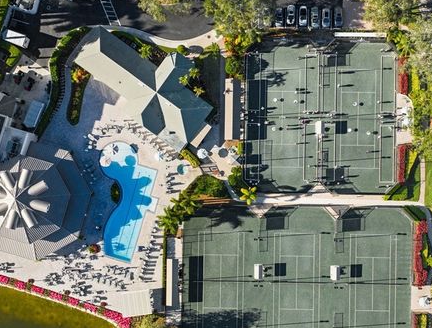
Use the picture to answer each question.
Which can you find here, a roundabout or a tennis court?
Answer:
tennis court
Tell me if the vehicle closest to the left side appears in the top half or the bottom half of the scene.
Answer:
top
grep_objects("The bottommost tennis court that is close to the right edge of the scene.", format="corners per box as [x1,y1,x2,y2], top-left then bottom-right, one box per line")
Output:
[336,207,413,328]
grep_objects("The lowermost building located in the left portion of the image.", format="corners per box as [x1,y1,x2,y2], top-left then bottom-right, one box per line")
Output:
[103,289,155,319]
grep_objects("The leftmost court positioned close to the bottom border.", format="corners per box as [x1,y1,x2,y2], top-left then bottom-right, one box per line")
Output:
[181,206,260,328]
